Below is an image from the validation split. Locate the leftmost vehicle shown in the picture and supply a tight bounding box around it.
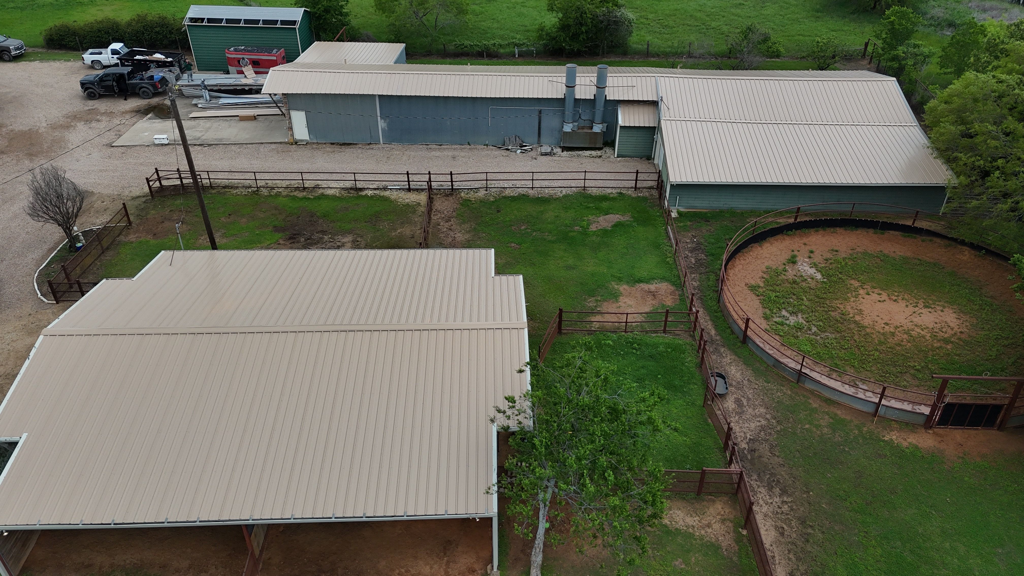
[0,31,31,61]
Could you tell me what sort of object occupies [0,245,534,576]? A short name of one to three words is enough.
barn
